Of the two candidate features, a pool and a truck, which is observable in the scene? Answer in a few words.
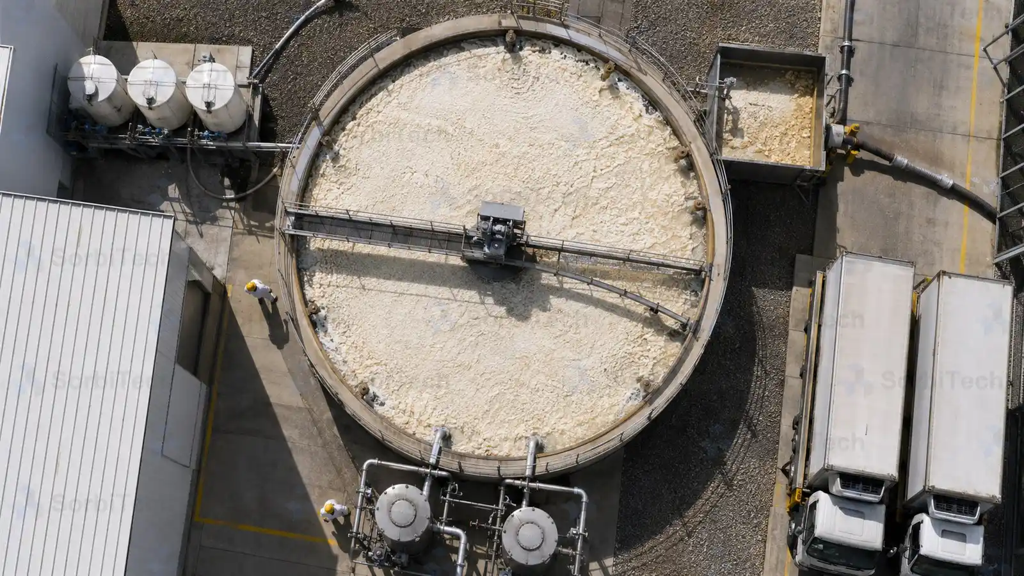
truck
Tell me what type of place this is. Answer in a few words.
industrial area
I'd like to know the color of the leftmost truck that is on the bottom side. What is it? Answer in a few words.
white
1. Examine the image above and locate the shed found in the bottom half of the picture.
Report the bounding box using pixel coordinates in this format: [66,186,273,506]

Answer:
[0,189,222,576]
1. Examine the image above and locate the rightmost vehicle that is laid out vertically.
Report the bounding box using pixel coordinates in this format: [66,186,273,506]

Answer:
[883,272,1013,576]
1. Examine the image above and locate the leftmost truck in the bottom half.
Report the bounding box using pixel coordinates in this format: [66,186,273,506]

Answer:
[788,253,914,576]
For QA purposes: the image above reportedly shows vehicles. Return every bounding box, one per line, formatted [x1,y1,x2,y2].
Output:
[788,253,914,576]
[883,272,1013,576]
